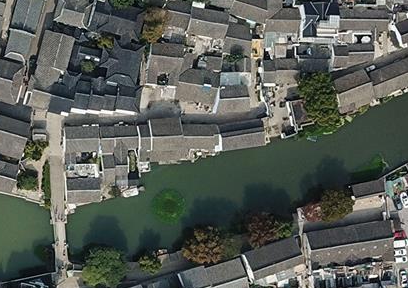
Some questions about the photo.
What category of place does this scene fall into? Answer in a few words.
residential area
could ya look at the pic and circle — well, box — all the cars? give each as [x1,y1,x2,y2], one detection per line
[396,249,408,256]
[394,231,408,239]
[392,194,402,212]
[391,256,408,263]
[399,269,408,287]
[400,191,408,209]
[396,239,408,248]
